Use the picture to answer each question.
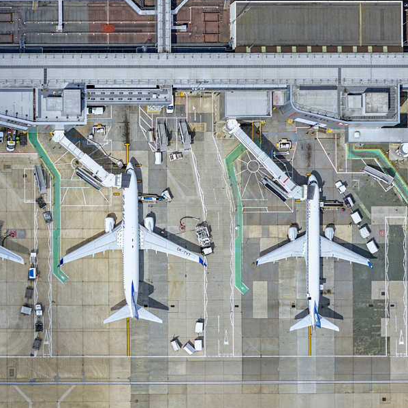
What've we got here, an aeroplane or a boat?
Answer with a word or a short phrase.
aeroplane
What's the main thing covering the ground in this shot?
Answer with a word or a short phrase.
paved ground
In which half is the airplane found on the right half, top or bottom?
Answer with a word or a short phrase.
bottom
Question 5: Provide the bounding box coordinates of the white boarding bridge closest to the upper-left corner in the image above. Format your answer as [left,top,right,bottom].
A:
[50,129,134,189]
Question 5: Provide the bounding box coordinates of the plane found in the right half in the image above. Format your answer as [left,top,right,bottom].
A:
[256,200,375,332]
